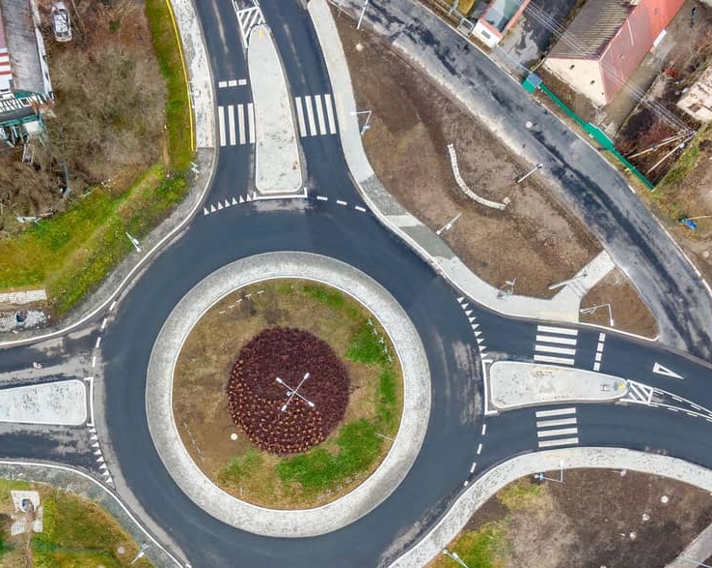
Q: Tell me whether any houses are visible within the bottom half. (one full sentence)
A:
No, looking within the bottom half, there is no house.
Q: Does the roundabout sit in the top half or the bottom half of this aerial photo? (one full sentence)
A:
It is in the bottom half that the roundabout appears.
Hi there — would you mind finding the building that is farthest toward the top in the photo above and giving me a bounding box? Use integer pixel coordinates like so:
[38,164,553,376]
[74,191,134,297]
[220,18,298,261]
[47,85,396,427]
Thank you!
[473,0,534,49]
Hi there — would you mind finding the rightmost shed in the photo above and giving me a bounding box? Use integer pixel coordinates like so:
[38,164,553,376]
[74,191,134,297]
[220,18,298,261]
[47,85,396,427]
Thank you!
[672,72,712,124]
